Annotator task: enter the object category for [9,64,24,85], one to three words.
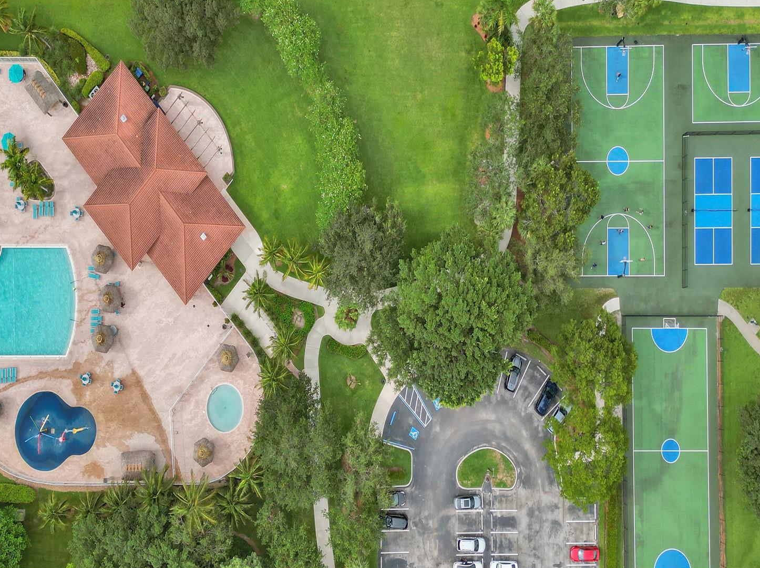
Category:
umbrella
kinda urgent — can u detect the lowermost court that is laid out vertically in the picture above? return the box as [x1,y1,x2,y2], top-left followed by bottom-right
[632,318,711,568]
